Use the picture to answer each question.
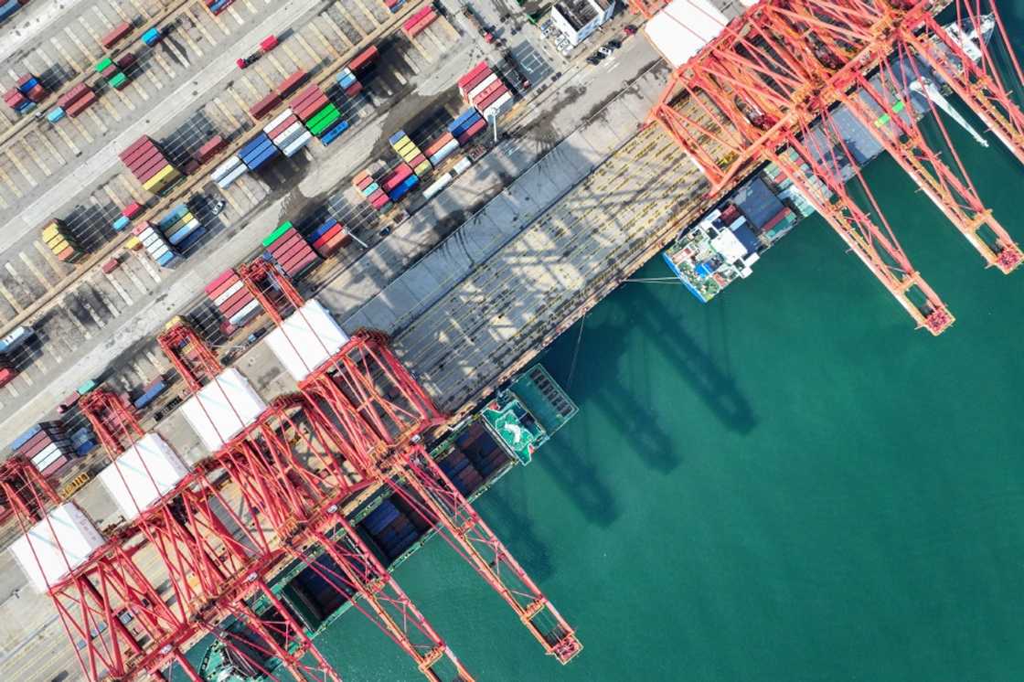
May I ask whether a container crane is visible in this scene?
Yes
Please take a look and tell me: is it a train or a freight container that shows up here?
freight container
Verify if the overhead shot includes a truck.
Yes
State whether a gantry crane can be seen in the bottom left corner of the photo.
Yes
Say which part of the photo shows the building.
top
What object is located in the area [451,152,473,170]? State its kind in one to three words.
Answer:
vehicle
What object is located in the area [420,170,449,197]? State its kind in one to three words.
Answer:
shipping container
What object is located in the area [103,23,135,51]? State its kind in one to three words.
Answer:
shipping container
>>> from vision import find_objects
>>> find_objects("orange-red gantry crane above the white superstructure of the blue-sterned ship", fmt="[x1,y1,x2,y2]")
[632,0,955,342]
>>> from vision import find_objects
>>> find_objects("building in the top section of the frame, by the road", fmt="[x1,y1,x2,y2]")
[550,0,616,47]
